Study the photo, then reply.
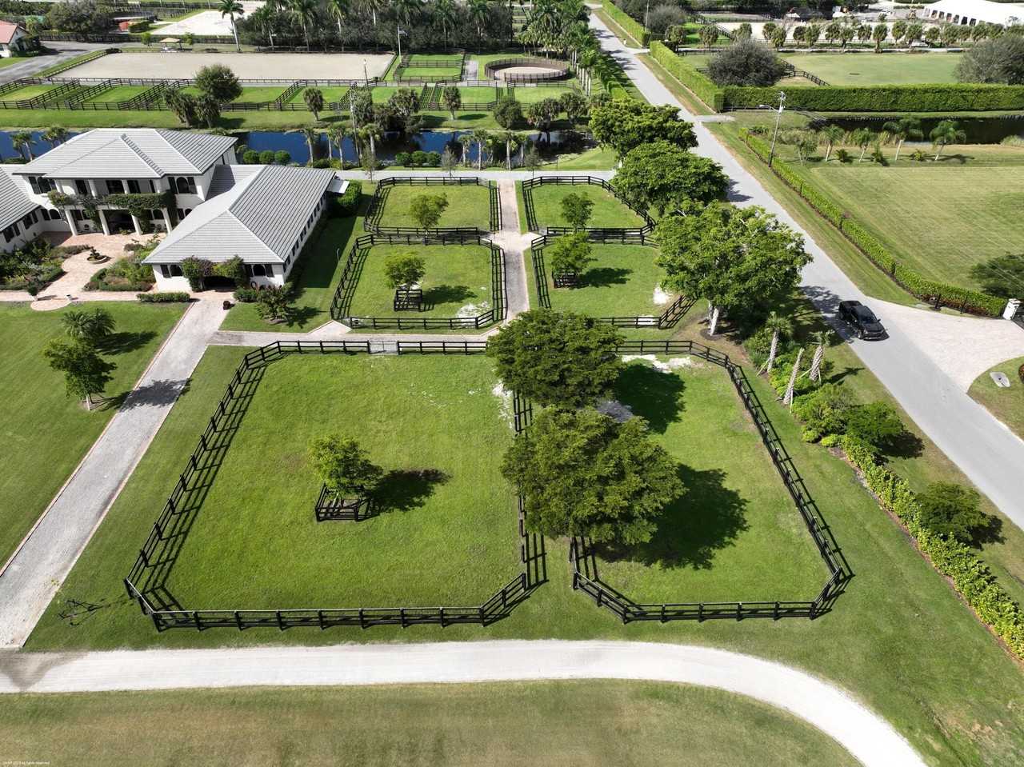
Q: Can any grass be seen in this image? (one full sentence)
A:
Yes, grass shows up in the scene.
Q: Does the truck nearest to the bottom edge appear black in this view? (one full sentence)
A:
Yes, the truck nearest to the bottom edge is indeed black.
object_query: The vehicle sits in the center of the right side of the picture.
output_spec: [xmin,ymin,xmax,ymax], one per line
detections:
[836,301,890,339]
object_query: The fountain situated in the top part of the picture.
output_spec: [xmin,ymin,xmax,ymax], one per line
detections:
[83,241,108,262]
